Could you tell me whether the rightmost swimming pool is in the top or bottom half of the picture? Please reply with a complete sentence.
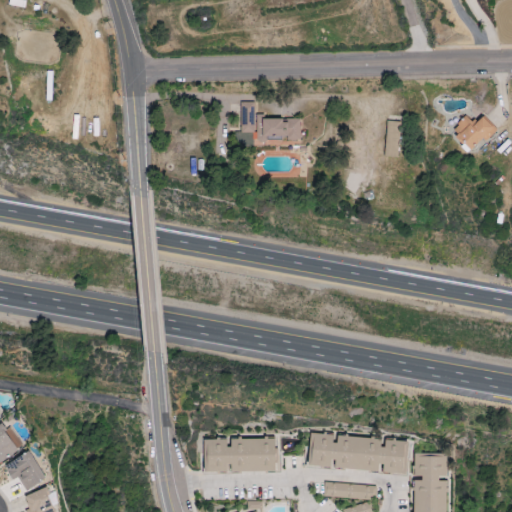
The top half of the photo is where the rightmost swimming pool is.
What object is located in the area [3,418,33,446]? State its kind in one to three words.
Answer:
swimming pool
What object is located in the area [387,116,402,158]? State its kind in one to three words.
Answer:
barn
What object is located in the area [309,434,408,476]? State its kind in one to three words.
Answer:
building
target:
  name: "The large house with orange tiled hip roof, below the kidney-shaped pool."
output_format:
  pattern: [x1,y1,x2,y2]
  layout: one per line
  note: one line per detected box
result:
[454,108,498,152]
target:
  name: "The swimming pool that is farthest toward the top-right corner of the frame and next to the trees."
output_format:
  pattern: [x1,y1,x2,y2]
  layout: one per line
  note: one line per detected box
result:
[432,94,474,136]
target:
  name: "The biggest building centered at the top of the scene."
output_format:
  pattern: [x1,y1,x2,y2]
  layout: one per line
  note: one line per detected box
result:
[256,112,302,142]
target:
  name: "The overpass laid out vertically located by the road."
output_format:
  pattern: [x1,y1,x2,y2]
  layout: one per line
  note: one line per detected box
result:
[130,190,168,362]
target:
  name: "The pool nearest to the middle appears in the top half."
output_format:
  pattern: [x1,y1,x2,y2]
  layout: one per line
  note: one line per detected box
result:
[250,142,302,177]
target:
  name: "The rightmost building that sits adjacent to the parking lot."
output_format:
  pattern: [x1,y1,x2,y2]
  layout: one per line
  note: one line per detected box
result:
[415,454,450,512]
